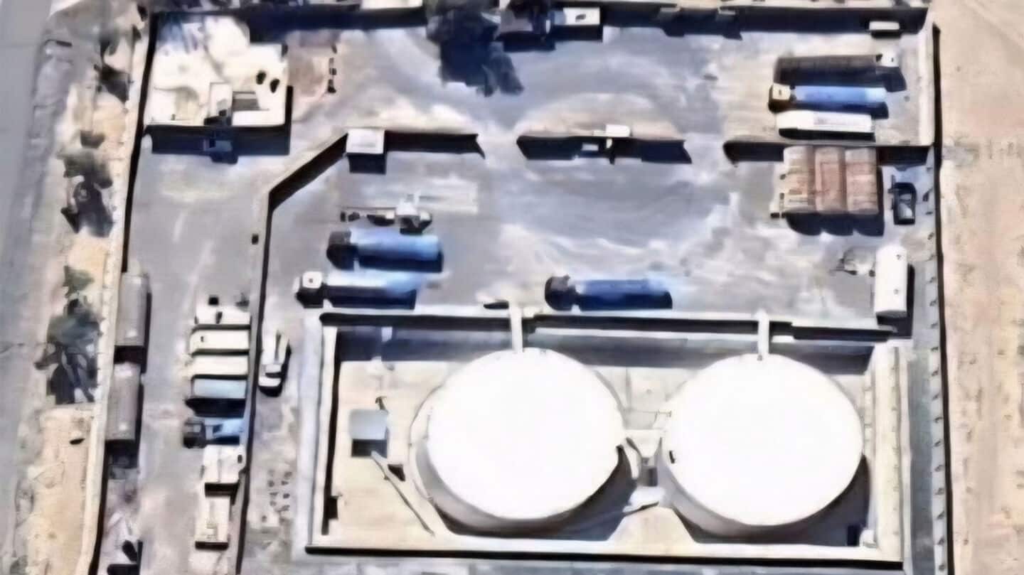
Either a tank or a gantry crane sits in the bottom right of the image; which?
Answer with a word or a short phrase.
tank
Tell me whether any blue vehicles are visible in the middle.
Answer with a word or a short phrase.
Yes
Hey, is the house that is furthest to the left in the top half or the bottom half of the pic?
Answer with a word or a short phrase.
top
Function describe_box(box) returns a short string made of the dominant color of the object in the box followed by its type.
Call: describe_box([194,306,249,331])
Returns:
white truck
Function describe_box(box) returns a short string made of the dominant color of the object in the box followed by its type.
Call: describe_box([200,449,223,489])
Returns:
white vehicle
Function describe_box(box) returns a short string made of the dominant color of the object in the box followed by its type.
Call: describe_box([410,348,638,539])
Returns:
white storage tank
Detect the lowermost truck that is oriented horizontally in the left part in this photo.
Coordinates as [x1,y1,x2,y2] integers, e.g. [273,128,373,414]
[183,415,243,441]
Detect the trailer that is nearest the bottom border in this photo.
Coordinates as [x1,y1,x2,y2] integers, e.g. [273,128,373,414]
[195,488,230,546]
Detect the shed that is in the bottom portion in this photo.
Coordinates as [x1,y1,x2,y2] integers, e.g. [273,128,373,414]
[350,410,387,449]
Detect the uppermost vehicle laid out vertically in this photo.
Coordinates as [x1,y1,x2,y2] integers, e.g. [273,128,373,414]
[894,182,915,225]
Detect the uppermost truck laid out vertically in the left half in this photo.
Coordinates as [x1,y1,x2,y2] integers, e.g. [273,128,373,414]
[259,331,284,394]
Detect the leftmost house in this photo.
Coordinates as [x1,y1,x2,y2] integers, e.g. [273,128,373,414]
[147,18,288,161]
